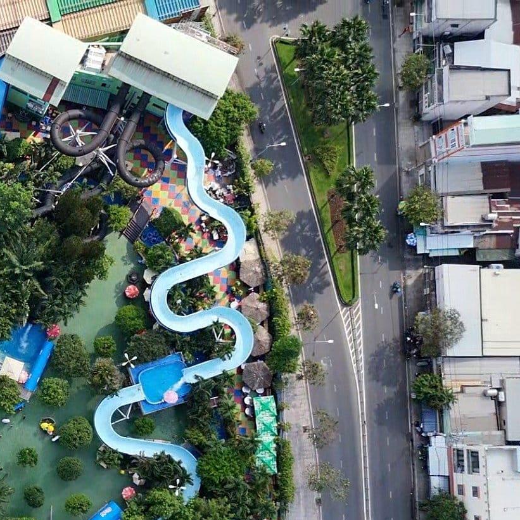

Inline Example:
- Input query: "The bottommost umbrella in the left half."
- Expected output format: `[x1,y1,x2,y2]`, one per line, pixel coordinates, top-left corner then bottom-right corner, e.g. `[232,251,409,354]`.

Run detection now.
[121,486,134,500]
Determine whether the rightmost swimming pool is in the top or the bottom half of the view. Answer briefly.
bottom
